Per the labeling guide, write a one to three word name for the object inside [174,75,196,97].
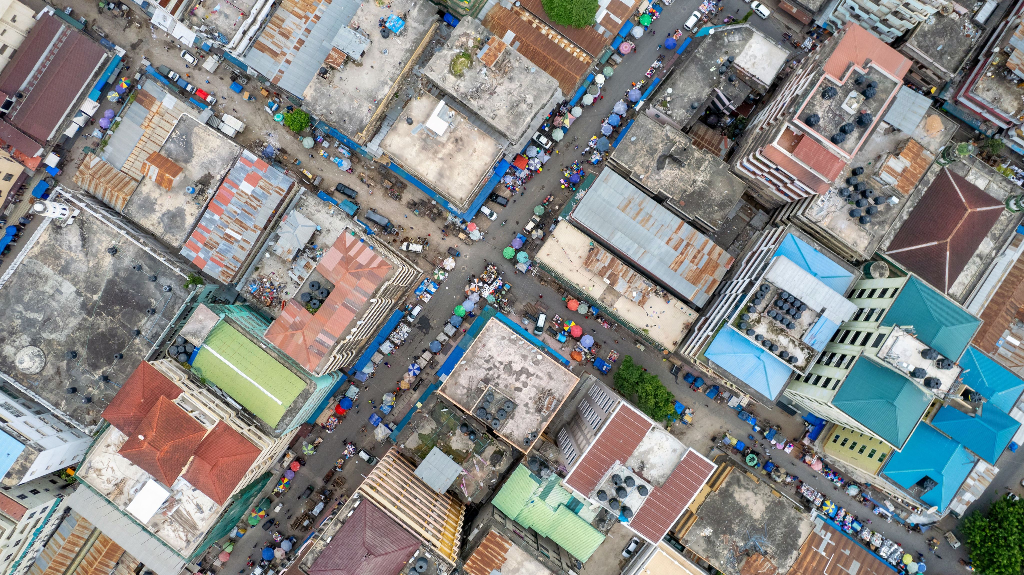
truck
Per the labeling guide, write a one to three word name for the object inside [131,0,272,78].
building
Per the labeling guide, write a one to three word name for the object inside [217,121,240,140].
vehicle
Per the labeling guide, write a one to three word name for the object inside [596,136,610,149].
umbrella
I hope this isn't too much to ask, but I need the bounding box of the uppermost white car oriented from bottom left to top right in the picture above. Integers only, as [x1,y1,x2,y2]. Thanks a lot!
[683,11,701,32]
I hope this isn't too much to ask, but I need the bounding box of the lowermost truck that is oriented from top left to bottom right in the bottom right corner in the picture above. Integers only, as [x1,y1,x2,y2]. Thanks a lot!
[940,529,962,551]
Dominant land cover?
buildings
